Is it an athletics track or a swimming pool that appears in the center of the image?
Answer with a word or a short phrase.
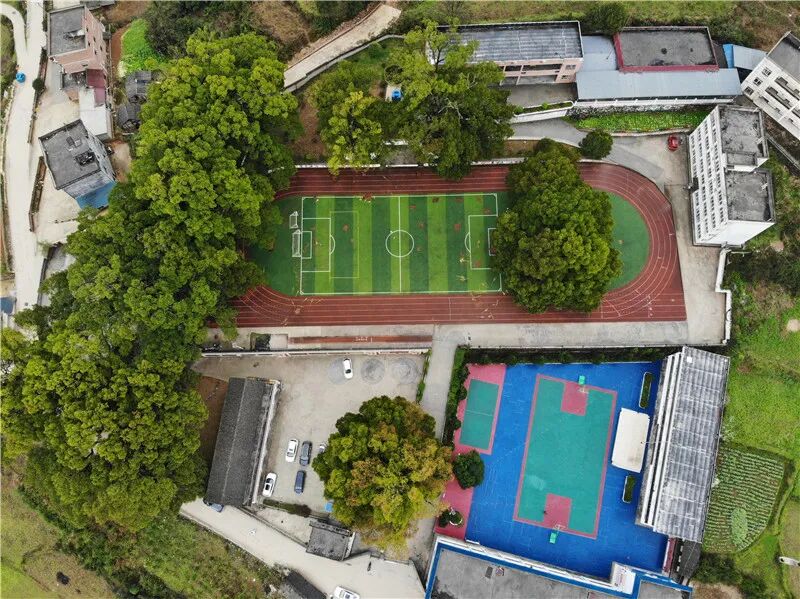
athletics track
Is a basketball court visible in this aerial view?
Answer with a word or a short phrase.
Yes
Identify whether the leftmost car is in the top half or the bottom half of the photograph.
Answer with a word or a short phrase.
bottom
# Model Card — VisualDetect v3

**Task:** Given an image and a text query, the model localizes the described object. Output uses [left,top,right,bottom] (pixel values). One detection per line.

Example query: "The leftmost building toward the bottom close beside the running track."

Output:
[205,376,284,507]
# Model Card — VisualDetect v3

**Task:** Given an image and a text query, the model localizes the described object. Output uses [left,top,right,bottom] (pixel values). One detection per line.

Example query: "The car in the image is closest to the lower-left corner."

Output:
[200,494,223,514]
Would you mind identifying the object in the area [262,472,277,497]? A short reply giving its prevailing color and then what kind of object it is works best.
white car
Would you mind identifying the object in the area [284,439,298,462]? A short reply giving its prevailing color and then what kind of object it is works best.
white car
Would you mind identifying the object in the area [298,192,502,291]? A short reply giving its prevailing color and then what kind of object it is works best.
green sports field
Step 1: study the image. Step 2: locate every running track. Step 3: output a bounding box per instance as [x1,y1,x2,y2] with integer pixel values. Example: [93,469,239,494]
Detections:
[212,164,687,324]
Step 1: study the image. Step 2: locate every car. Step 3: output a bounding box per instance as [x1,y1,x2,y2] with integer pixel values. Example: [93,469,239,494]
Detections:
[334,585,361,599]
[293,469,307,496]
[341,358,352,379]
[262,472,277,497]
[200,494,223,514]
[667,132,678,151]
[298,441,313,466]
[284,439,298,462]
